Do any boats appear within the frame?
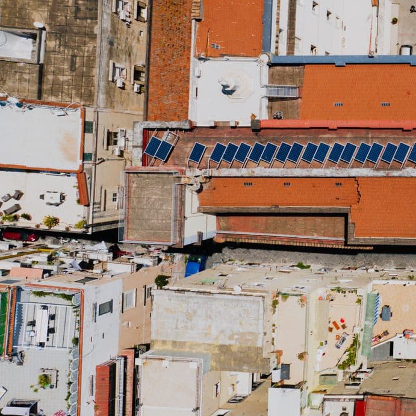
No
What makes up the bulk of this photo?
buildings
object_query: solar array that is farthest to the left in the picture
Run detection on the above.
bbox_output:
[141,131,179,167]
